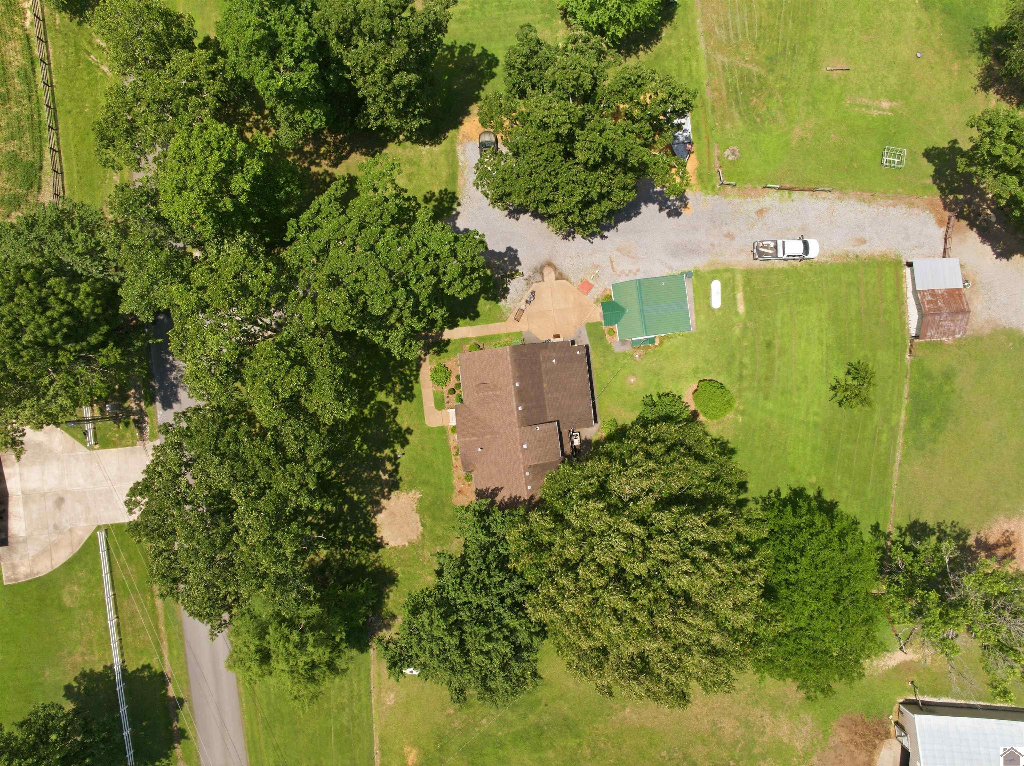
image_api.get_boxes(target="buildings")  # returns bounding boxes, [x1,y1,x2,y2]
[906,258,971,339]
[455,341,595,525]
[890,703,1024,766]
[598,274,693,346]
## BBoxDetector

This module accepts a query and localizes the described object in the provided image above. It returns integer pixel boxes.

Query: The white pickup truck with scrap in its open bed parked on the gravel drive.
[749,233,819,263]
